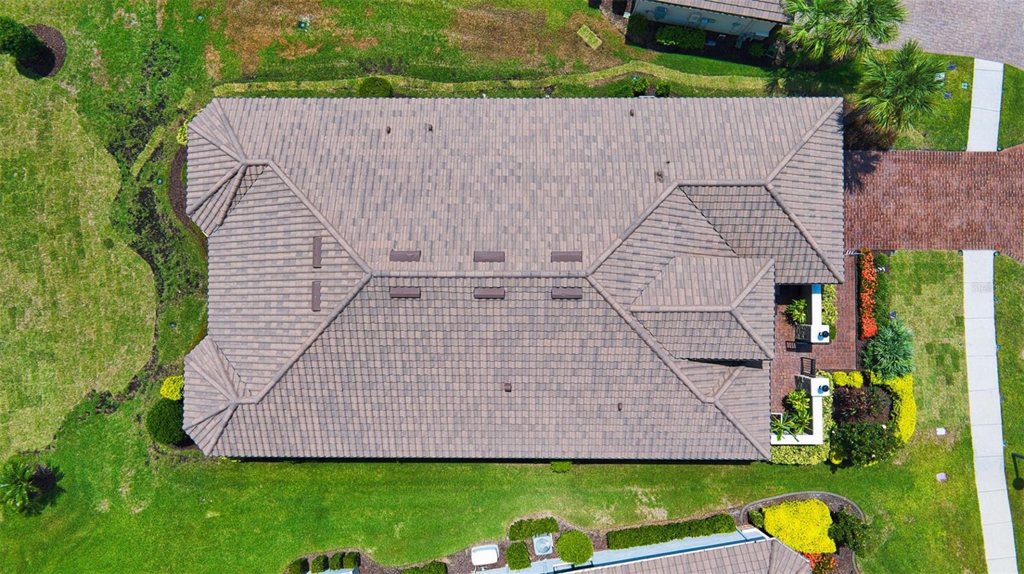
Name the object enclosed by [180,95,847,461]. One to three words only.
house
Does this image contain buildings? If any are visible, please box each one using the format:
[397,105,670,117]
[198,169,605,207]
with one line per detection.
[630,0,799,41]
[180,95,847,461]
[466,523,814,574]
